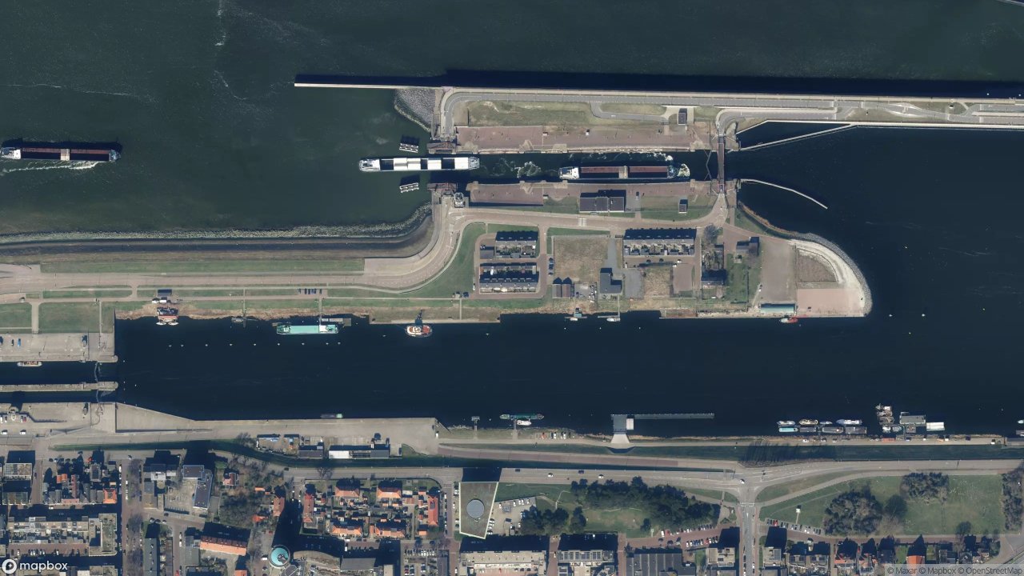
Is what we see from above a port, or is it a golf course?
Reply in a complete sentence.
The area seen from above is a port.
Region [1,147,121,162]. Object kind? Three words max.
ship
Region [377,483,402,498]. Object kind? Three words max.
house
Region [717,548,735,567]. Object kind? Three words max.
building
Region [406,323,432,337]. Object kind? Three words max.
boat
